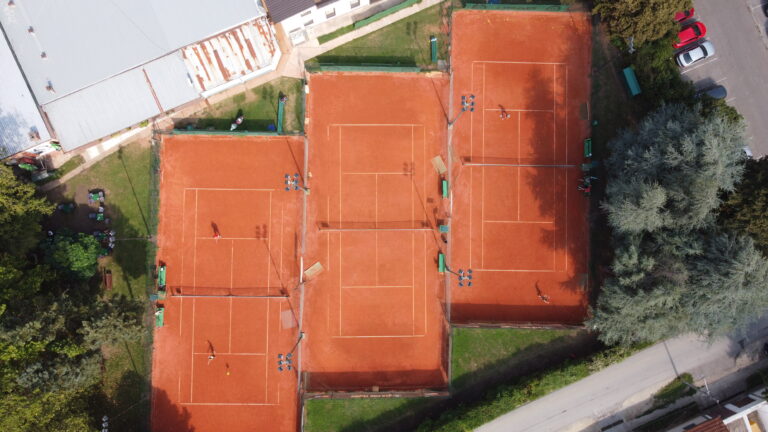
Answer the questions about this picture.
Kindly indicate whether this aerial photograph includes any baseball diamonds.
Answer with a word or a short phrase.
No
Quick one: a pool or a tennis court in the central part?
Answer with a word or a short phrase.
tennis court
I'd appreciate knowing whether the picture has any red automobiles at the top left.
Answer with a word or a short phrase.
No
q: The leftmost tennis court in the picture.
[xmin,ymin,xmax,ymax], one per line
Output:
[152,134,304,432]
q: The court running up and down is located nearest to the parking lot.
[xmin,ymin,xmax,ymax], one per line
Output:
[450,10,592,323]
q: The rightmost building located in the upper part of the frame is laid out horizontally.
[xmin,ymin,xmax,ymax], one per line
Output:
[269,0,404,57]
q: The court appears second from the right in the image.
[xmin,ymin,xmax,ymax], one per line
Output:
[304,72,448,388]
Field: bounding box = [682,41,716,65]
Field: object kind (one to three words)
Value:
car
